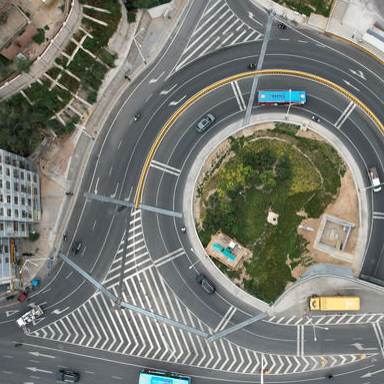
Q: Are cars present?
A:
Yes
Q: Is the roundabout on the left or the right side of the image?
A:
right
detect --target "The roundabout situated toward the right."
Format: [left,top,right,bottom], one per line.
[138,17,384,312]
